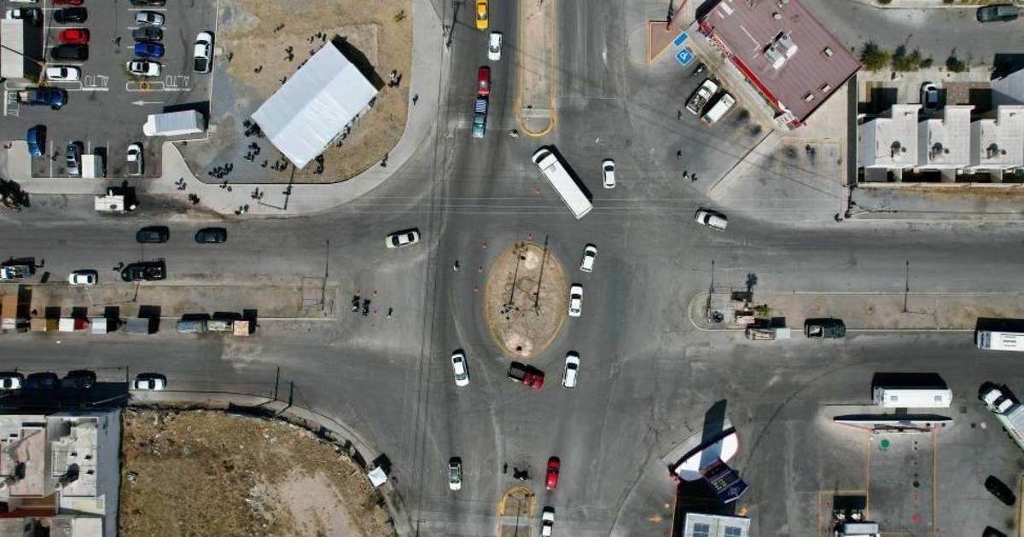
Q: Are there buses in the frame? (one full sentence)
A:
Yes, the photo shows a bus.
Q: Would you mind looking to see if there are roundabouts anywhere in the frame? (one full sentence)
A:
Yes, the frame does contain a roundabout.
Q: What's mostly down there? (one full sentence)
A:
What you mostly see from above here is paved ground.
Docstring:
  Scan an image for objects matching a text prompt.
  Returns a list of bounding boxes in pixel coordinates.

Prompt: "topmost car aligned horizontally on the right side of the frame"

[979,5,1015,21]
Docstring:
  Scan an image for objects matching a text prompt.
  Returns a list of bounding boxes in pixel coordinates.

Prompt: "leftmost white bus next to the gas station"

[874,385,952,409]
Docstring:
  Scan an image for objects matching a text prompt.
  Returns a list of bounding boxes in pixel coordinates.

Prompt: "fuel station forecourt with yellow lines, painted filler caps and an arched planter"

[755,404,1024,537]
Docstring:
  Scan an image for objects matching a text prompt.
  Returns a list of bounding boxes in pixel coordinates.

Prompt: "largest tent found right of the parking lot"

[252,42,381,171]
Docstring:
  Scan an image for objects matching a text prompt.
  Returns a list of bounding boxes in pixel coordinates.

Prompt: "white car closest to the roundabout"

[568,284,584,317]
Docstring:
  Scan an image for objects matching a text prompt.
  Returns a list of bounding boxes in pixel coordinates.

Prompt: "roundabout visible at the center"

[484,241,570,358]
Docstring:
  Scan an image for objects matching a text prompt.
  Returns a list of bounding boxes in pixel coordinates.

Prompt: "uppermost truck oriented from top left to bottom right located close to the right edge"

[976,394,1024,453]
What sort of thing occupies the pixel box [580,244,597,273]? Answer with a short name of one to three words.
car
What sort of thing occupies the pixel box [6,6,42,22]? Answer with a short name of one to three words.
vehicle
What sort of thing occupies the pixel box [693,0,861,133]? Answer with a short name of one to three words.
building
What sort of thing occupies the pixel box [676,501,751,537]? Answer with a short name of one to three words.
building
